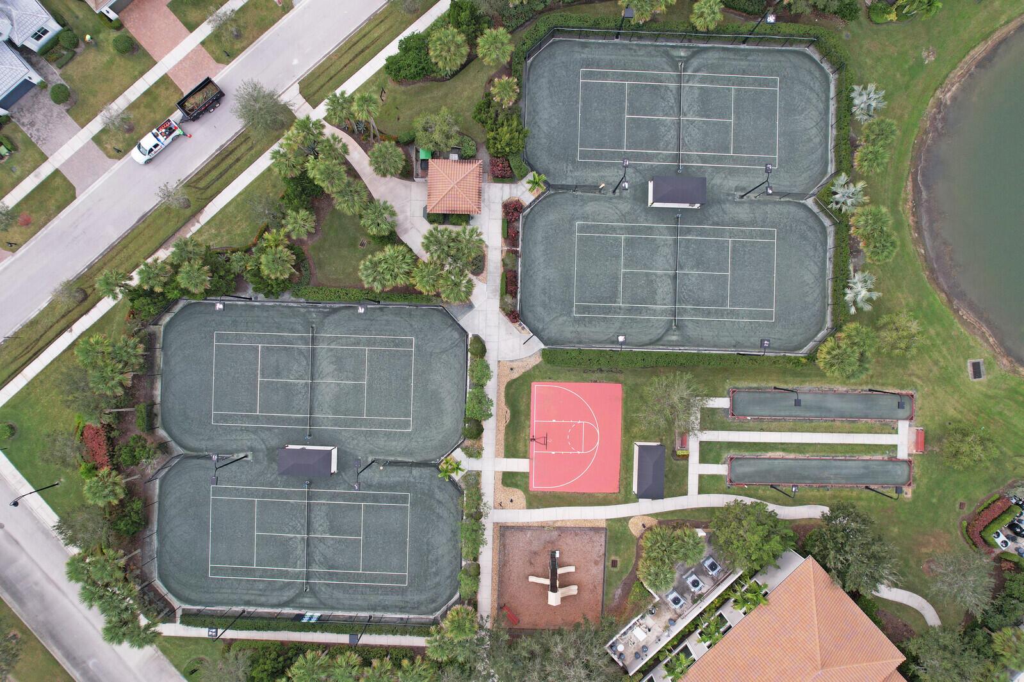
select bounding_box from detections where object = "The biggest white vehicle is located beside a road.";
[128,118,178,164]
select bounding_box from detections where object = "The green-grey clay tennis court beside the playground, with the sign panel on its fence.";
[158,455,461,615]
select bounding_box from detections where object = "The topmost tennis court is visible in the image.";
[526,40,830,197]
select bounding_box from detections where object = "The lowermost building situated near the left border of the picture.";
[0,41,43,115]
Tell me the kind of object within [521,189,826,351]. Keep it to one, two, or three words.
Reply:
tennis court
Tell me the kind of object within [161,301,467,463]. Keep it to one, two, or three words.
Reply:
tennis court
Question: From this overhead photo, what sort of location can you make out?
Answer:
sports ground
